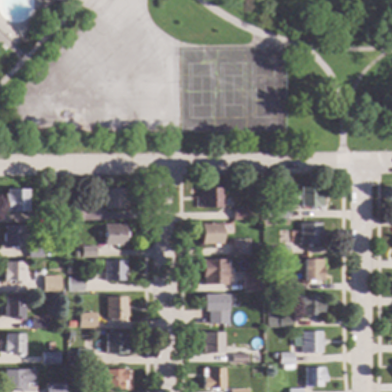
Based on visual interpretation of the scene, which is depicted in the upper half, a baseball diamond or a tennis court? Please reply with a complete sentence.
What appears in the upper half is a tennis court.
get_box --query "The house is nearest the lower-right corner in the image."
[306,366,332,390]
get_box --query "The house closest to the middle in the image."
[196,187,226,210]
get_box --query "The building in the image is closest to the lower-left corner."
[6,370,36,392]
